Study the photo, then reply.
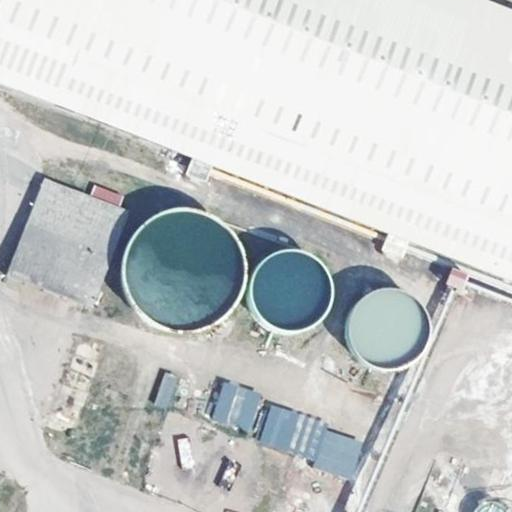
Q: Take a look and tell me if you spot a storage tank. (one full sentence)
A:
Yes, the photo shows a storage tank.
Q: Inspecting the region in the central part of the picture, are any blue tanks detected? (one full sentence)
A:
Yes, a blue tank shows up in the central part of the picture.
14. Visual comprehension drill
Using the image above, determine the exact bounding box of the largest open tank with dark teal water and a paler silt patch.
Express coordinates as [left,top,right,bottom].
[120,207,248,334]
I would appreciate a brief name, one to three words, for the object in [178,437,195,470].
vehicle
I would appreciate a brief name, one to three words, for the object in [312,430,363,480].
shed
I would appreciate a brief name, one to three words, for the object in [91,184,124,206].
shed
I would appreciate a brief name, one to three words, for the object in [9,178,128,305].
building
